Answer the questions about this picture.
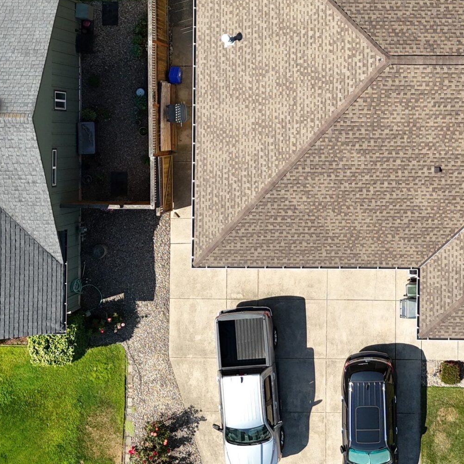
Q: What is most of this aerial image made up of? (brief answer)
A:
buildings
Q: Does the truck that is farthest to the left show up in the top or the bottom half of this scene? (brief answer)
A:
bottom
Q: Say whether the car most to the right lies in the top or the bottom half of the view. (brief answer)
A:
bottom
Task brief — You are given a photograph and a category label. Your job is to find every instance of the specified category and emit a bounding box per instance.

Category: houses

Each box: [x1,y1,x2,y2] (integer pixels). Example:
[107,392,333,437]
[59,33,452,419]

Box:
[0,0,81,340]
[192,0,464,339]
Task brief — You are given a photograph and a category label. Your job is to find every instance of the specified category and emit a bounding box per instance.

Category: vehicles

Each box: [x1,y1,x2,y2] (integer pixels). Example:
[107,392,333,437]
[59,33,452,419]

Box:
[337,347,404,464]
[209,305,289,464]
